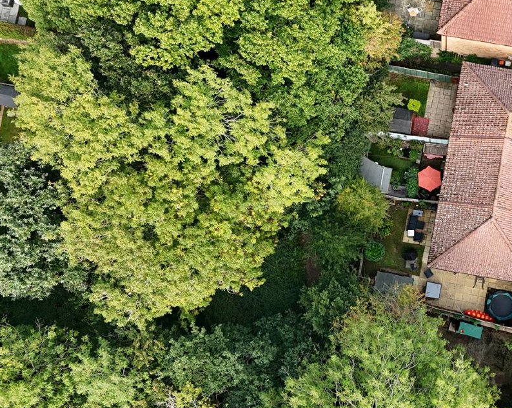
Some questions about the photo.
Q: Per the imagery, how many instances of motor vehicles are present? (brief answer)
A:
zero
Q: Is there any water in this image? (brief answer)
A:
No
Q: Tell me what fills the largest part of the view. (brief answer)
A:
trees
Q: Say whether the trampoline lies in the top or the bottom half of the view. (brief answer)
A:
bottom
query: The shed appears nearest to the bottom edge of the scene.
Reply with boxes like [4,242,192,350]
[371,269,413,295]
